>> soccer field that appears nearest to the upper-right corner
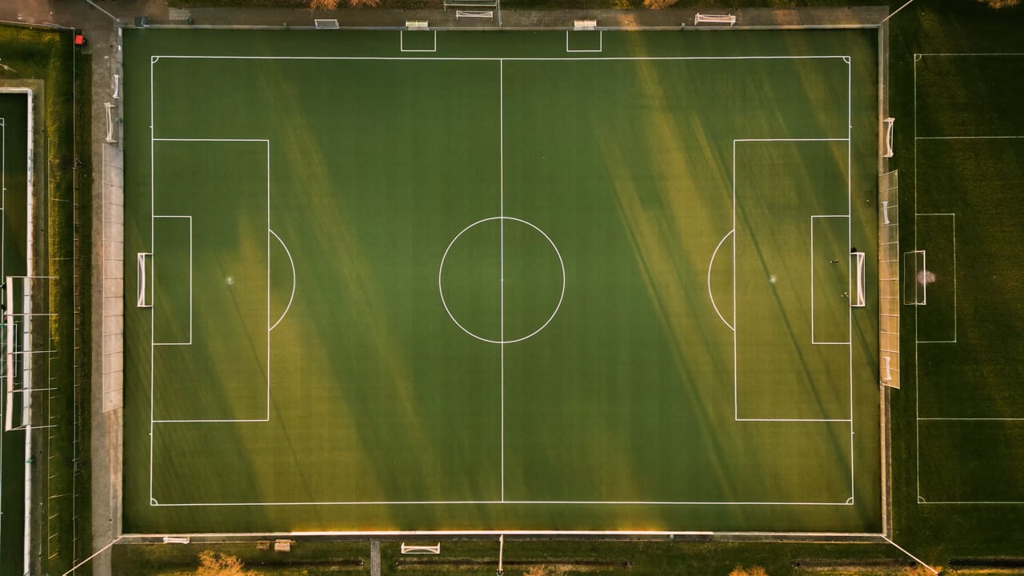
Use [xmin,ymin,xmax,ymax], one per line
[890,0,1024,553]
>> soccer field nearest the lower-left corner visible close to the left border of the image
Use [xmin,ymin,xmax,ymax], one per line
[0,92,28,576]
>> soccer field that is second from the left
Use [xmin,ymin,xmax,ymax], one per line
[122,30,882,532]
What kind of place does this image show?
sports ground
